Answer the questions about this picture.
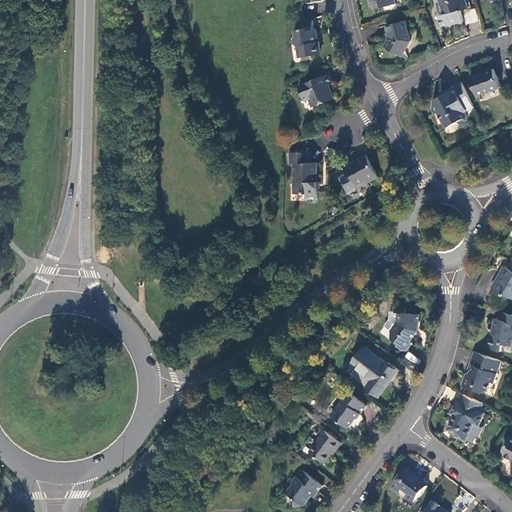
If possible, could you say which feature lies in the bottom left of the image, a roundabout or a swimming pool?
roundabout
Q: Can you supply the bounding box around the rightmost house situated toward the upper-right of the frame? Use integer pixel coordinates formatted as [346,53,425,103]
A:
[467,68,498,100]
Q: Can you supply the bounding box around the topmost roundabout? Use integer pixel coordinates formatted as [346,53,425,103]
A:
[396,182,487,274]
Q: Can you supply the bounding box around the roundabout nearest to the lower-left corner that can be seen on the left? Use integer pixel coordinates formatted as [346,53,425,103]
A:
[0,290,161,485]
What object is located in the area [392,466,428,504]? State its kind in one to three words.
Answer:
house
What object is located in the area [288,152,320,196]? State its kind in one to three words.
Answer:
house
